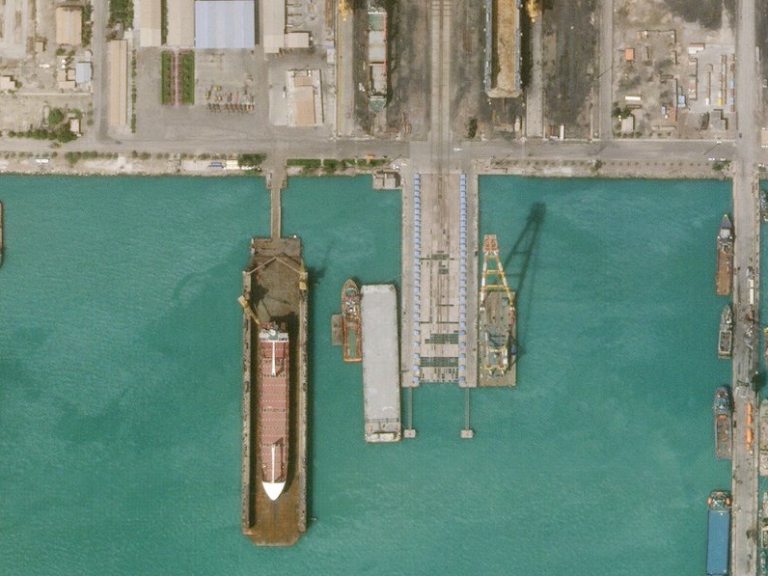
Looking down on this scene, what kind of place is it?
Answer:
port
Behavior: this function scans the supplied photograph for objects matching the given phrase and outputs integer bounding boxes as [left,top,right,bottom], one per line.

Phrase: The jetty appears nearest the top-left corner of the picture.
[265,160,287,238]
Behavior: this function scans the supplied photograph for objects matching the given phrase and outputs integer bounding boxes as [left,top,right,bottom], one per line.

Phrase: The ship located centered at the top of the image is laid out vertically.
[369,0,387,112]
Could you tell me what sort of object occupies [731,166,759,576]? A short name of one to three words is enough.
pier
